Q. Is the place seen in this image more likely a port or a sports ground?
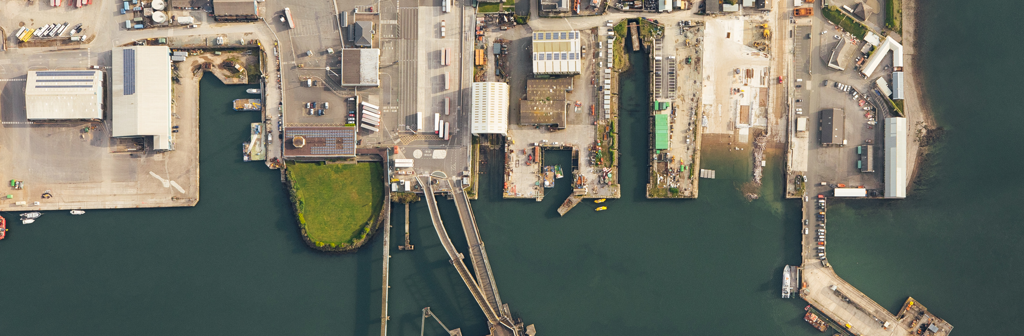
port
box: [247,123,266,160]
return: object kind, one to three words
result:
ship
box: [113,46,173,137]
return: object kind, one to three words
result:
building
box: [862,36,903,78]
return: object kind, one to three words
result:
shed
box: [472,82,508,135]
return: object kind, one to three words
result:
shed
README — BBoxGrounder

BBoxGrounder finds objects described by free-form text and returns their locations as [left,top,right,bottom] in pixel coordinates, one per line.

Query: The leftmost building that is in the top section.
[26,70,104,120]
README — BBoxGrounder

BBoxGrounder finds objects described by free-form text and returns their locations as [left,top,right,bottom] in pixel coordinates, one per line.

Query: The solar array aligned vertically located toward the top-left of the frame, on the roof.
[123,48,135,95]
